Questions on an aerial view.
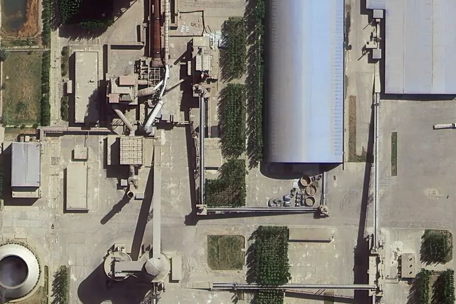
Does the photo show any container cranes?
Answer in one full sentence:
No, there isn't any container crane down there.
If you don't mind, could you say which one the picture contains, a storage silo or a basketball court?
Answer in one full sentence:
The image shows a storage silo.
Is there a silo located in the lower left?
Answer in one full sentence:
Yes, you'll find a silo in the lower left.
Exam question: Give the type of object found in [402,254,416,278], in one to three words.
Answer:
house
